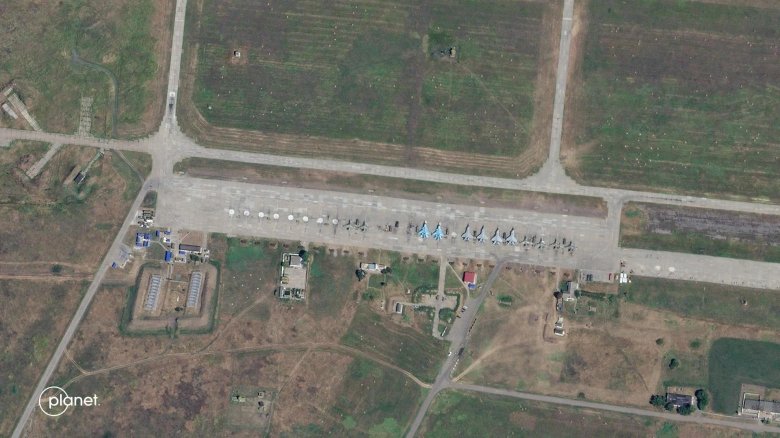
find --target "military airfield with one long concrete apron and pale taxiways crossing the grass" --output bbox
[0,0,780,289]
